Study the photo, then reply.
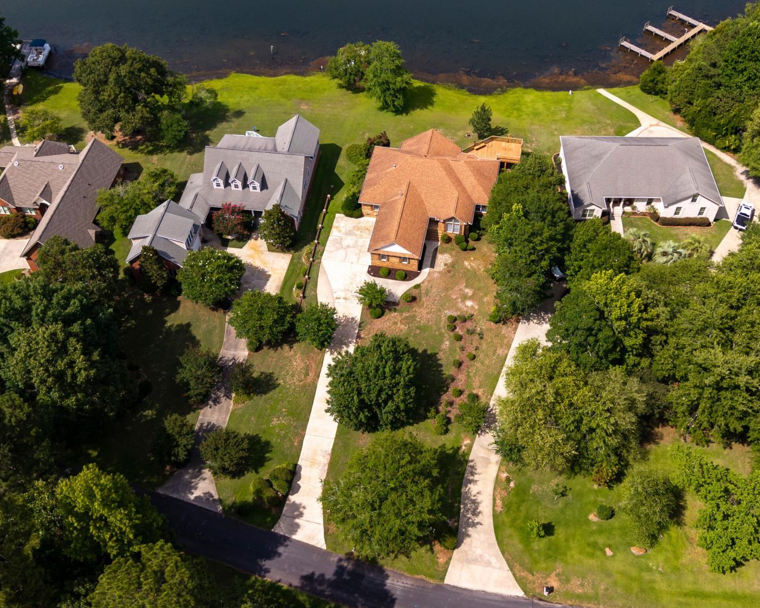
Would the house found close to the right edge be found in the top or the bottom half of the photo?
top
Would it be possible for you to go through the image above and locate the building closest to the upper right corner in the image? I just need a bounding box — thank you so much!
[559,135,726,225]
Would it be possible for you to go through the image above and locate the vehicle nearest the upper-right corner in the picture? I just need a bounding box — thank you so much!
[734,202,755,228]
